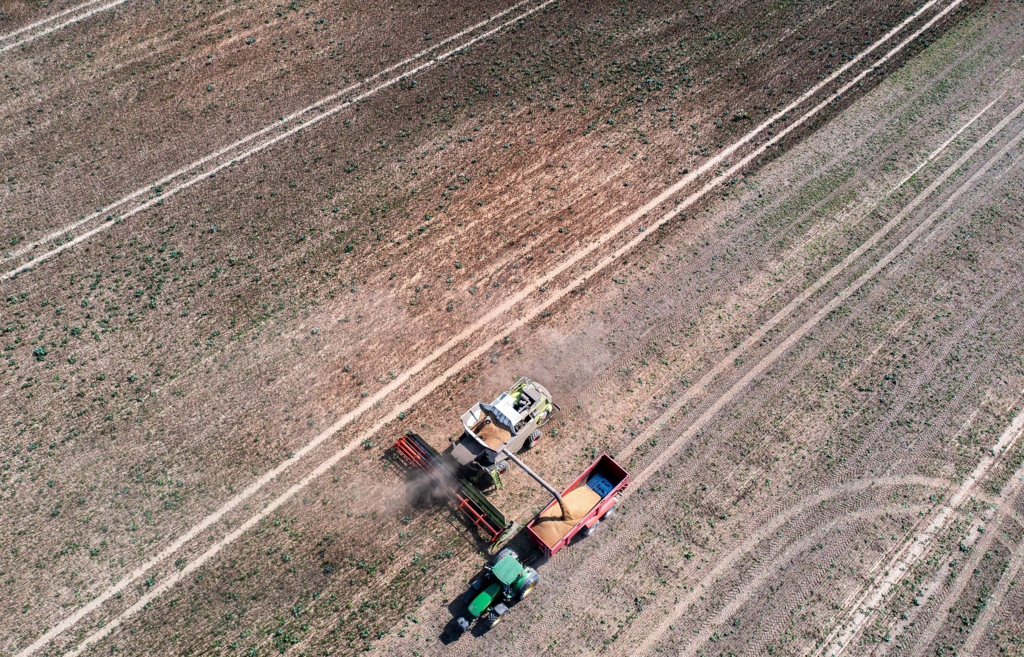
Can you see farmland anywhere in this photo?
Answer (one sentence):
Yes, farmland can be seen from above here.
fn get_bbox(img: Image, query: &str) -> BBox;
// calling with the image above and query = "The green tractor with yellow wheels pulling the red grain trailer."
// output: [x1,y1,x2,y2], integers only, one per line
[456,546,539,634]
